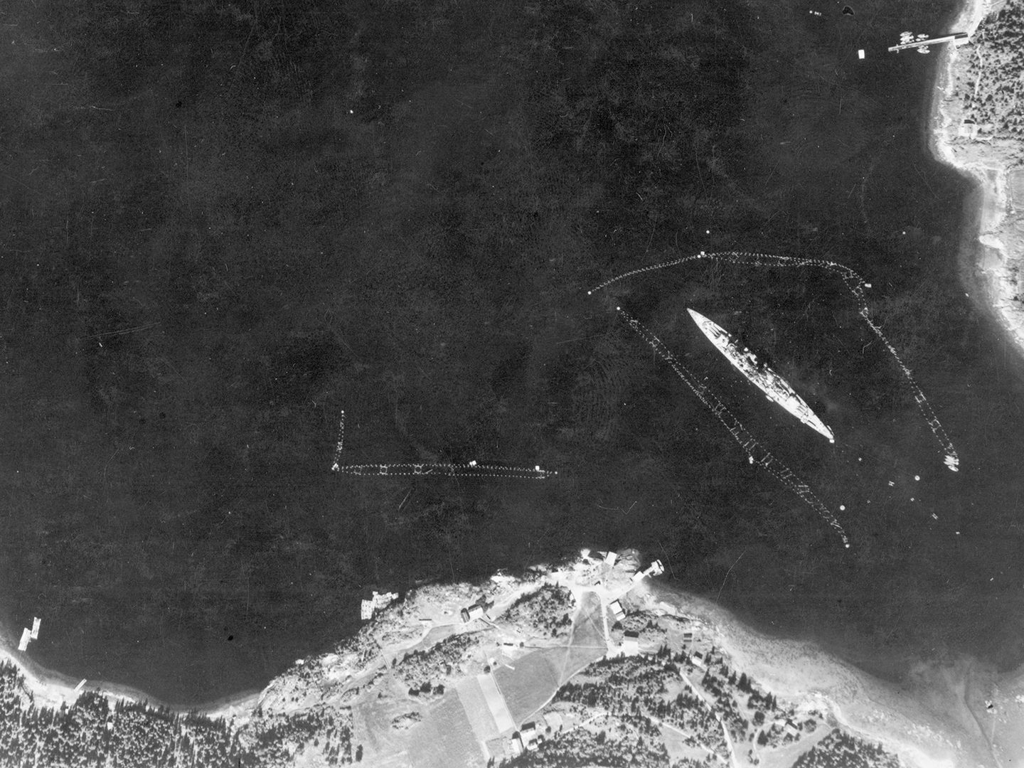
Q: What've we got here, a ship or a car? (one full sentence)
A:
The one in the frame is a ship.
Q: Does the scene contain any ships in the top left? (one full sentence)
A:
No, I see no ship in the top left.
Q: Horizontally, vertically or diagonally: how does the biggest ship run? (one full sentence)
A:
The biggest ship is oriented diagonally.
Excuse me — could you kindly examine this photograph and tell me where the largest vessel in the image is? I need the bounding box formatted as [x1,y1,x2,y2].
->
[687,308,832,439]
